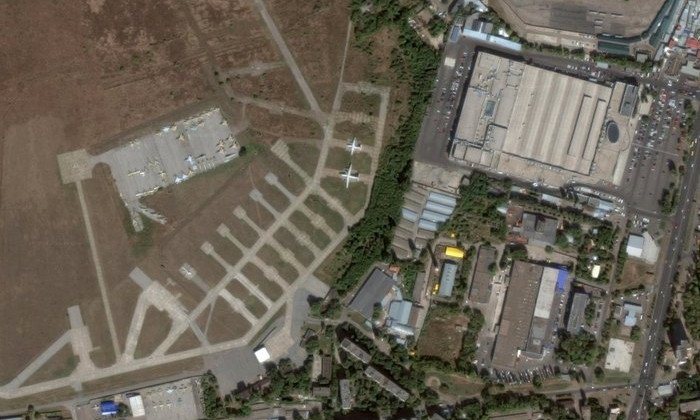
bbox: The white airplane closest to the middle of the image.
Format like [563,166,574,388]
[339,165,358,187]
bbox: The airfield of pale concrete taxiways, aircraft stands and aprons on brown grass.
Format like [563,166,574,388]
[0,0,392,420]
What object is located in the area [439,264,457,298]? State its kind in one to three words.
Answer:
building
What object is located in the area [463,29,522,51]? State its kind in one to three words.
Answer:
building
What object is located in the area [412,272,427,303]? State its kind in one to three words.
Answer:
shed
